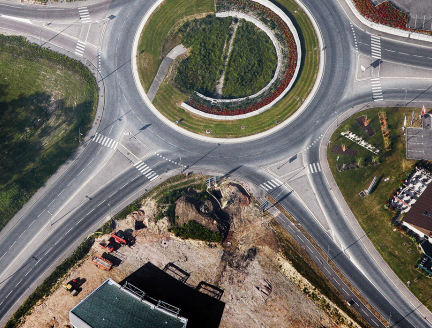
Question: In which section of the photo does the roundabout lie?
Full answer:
Look in the top portion of the view to spot the roundabout.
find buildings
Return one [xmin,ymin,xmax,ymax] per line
[69,279,187,328]
[402,182,432,240]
